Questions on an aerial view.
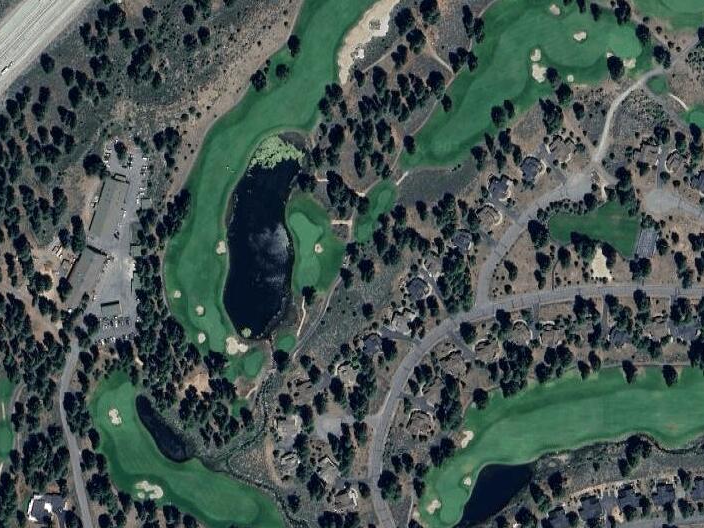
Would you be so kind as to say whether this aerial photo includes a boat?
No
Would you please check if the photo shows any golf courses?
Yes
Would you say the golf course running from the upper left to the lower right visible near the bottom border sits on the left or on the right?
left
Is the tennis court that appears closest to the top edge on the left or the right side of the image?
right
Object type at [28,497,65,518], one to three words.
house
